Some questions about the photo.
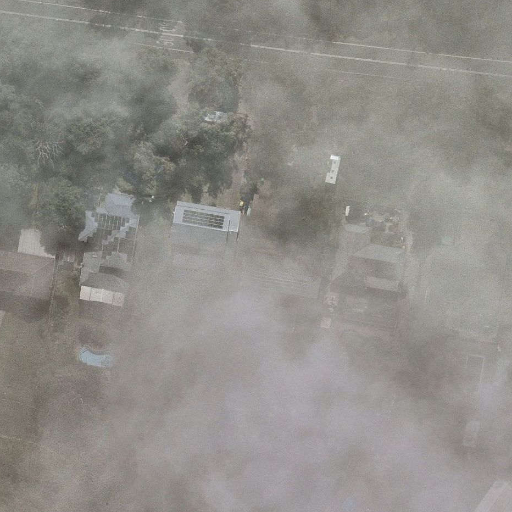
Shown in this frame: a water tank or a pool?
pool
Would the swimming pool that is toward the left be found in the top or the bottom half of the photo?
bottom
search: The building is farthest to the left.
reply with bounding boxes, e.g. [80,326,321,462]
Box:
[0,229,59,300]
